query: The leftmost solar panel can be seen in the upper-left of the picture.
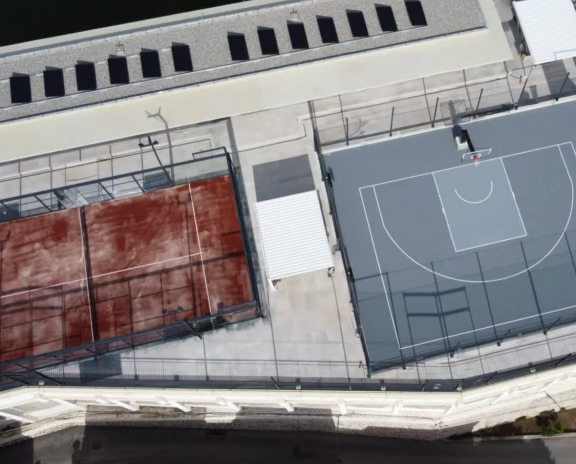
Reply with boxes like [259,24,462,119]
[9,76,31,104]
